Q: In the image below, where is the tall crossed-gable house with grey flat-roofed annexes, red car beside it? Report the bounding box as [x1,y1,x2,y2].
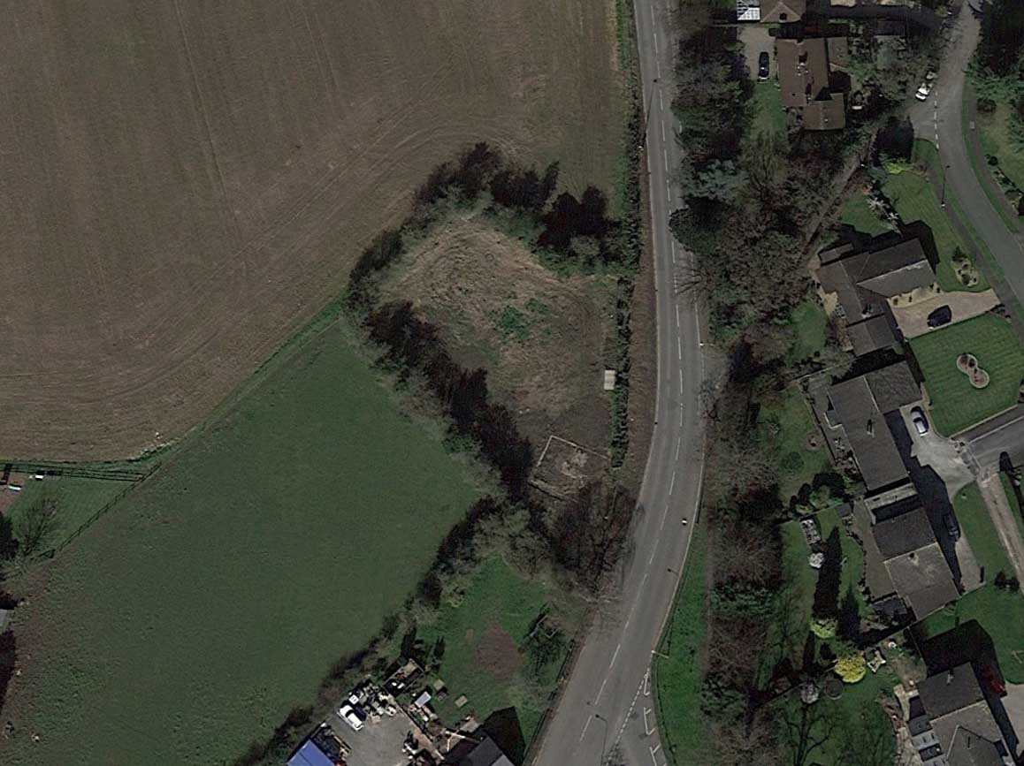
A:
[910,665,1018,766]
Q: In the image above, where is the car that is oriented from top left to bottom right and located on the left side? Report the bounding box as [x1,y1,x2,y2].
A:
[338,701,363,728]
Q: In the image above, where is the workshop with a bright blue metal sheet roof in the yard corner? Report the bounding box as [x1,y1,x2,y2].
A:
[282,735,338,766]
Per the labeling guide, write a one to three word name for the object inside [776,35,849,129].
house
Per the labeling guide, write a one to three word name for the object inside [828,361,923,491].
house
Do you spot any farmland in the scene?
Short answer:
Yes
